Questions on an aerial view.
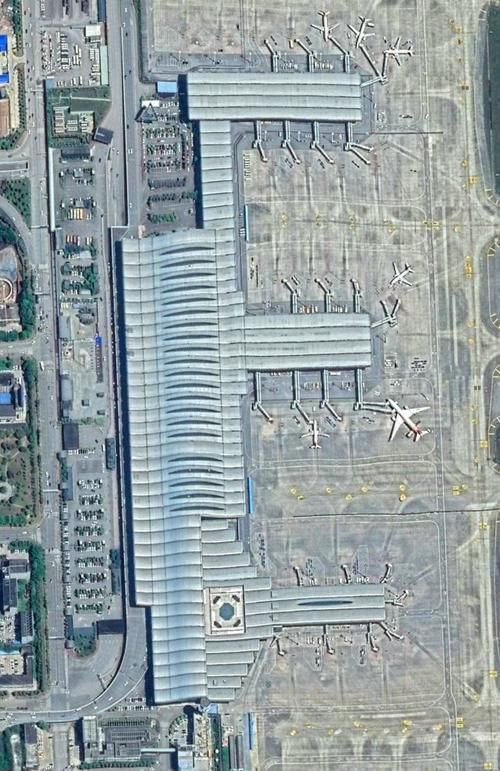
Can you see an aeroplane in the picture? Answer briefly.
Yes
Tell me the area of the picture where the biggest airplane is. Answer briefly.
right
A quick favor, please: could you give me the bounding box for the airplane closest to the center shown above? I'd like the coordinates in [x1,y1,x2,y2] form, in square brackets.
[301,420,330,448]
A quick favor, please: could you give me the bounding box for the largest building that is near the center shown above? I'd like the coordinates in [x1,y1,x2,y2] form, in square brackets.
[123,120,282,707]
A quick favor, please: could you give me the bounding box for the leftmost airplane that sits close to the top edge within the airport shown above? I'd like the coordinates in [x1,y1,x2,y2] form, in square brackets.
[310,11,338,40]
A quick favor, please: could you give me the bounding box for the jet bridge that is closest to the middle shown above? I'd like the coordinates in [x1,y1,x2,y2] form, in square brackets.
[255,370,273,422]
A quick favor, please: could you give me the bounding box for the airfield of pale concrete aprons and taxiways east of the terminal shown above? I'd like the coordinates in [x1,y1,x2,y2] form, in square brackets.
[140,0,500,771]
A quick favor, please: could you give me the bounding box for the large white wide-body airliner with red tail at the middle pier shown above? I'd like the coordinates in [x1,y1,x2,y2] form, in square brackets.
[386,399,430,440]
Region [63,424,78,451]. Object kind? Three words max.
building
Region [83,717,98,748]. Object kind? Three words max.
building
